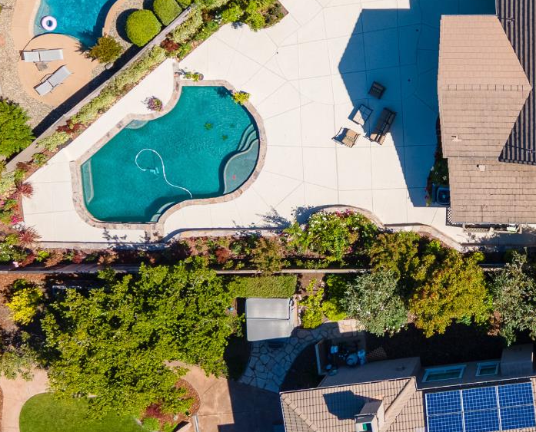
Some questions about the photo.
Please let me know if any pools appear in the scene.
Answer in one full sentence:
Yes, looking at the shot, I can spot a pool.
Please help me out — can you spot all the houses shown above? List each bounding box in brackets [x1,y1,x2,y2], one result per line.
[439,0,536,227]
[278,335,536,432]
